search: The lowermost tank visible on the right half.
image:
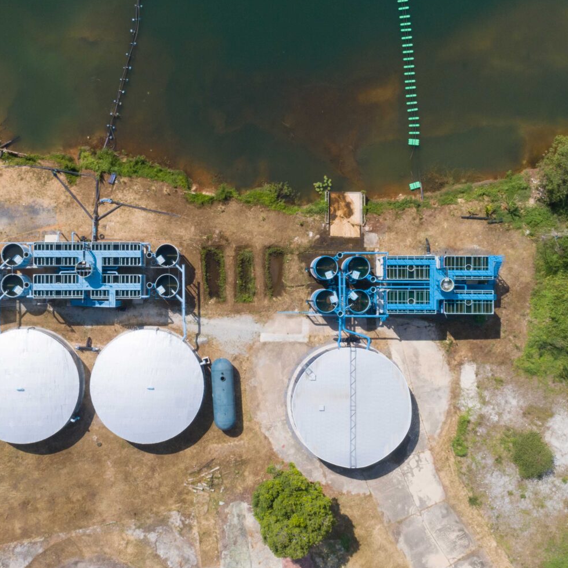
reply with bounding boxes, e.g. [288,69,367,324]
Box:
[287,343,411,469]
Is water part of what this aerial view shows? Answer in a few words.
Yes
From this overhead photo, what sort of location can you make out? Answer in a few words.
industrial area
